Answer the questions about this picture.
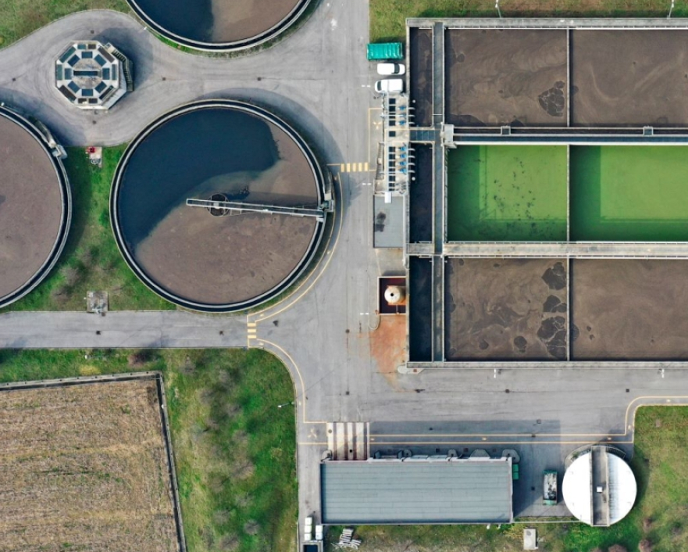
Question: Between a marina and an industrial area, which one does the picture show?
industrial area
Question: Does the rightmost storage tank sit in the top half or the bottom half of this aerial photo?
bottom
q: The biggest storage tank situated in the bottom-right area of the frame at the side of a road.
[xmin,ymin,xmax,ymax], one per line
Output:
[561,442,637,528]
